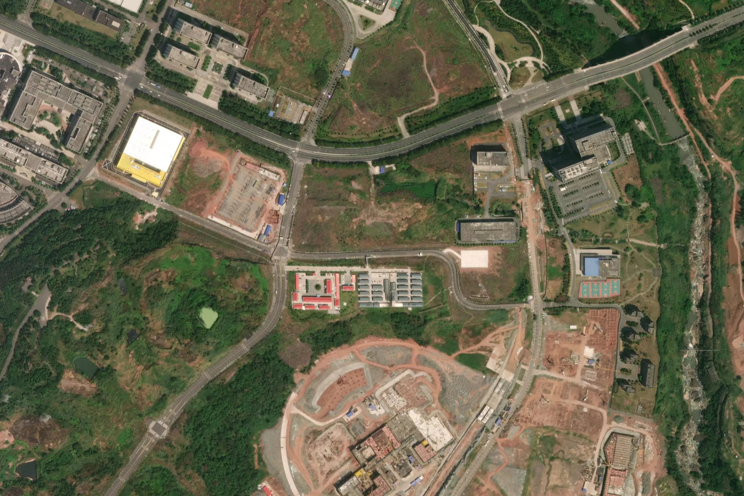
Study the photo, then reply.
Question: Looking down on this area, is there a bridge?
Yes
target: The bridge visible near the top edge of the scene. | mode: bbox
[539,23,697,99]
